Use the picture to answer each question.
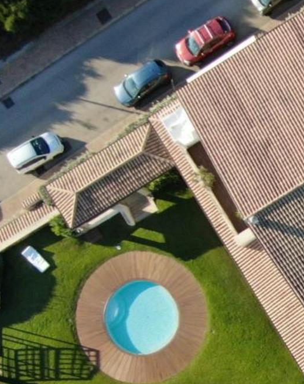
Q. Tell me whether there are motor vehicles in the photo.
Yes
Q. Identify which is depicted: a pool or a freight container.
pool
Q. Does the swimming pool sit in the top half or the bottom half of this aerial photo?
bottom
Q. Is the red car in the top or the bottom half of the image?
top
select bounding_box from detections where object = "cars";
[174,13,241,70]
[113,55,176,111]
[0,130,69,178]
[249,0,298,19]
